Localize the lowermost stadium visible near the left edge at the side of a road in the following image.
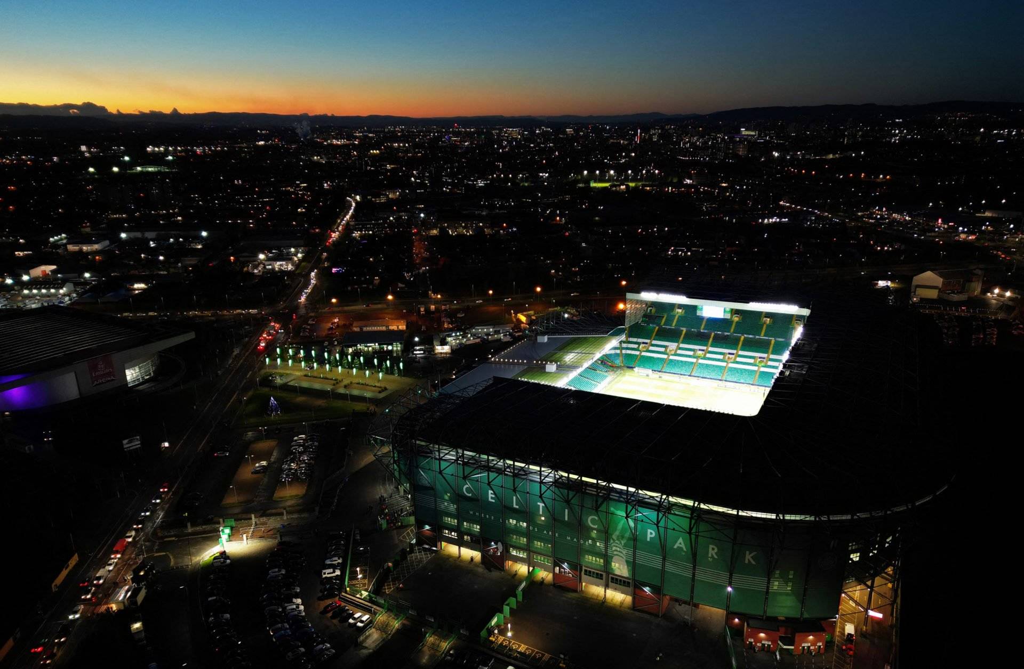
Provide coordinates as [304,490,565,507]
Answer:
[0,305,195,411]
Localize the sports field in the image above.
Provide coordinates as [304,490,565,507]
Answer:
[600,371,770,417]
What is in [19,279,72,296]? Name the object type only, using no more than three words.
building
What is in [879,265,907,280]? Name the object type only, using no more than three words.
house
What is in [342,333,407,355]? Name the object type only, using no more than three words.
building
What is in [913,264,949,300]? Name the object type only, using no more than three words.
house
